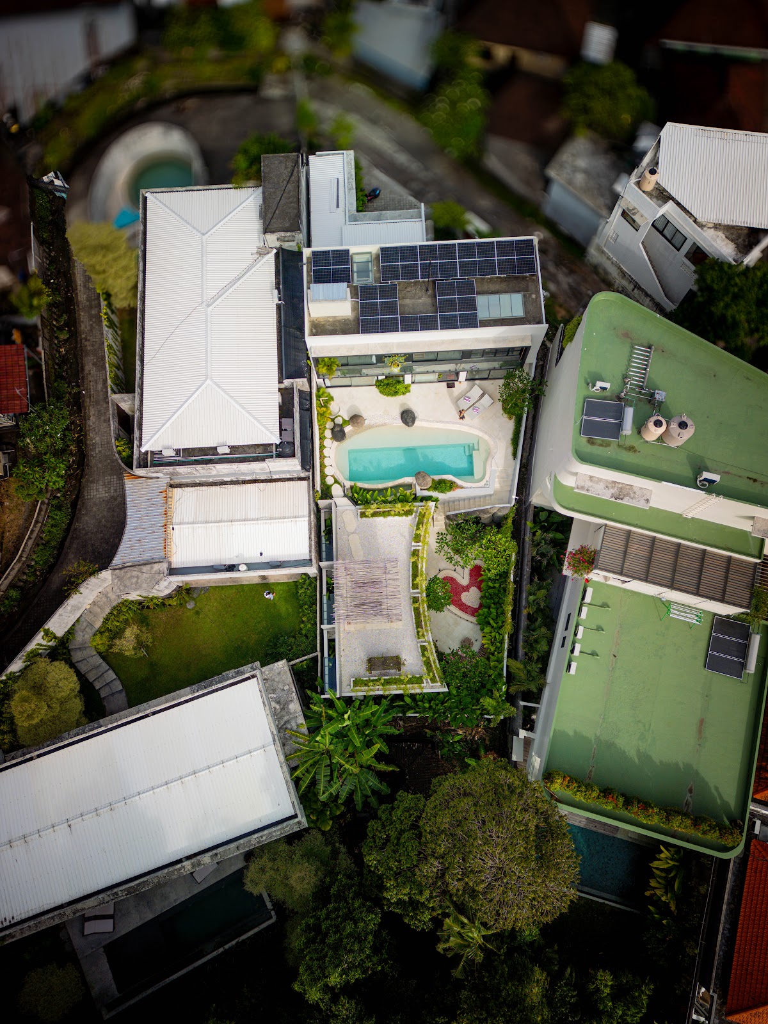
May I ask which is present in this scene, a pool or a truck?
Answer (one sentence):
The image shows a pool.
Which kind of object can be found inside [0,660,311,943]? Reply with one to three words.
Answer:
house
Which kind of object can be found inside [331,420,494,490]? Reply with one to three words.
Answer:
swimming pool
